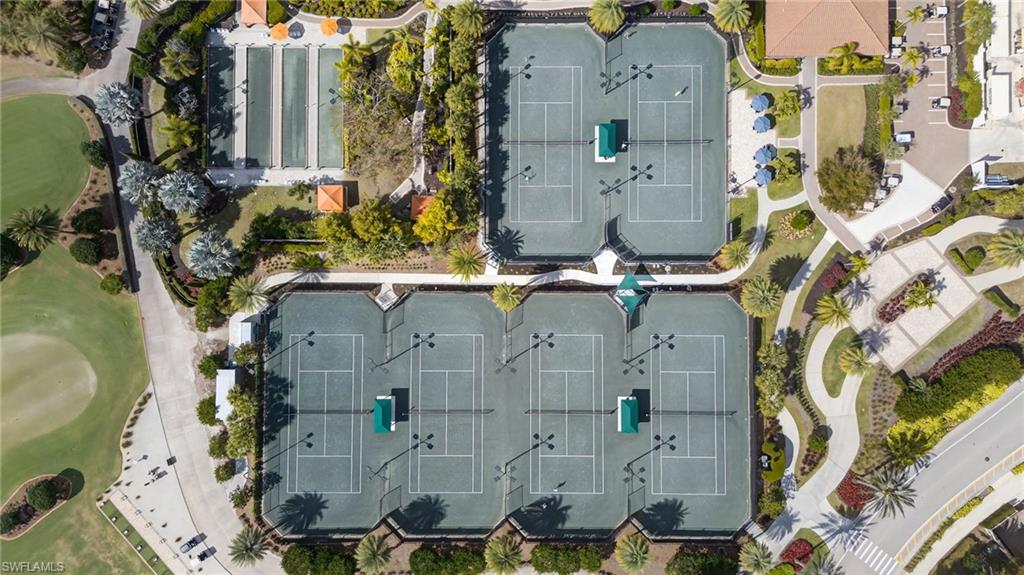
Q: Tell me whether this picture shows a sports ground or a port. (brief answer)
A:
sports ground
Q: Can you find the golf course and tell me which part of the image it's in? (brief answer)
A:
left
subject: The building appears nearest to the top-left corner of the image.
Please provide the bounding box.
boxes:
[242,0,273,29]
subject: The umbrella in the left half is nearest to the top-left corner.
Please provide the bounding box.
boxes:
[272,24,289,41]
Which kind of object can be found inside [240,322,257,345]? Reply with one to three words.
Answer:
shed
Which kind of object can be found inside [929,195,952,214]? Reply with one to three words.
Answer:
car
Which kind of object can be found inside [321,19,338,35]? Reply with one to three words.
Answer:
umbrella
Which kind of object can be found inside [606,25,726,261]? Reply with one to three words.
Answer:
tennis court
